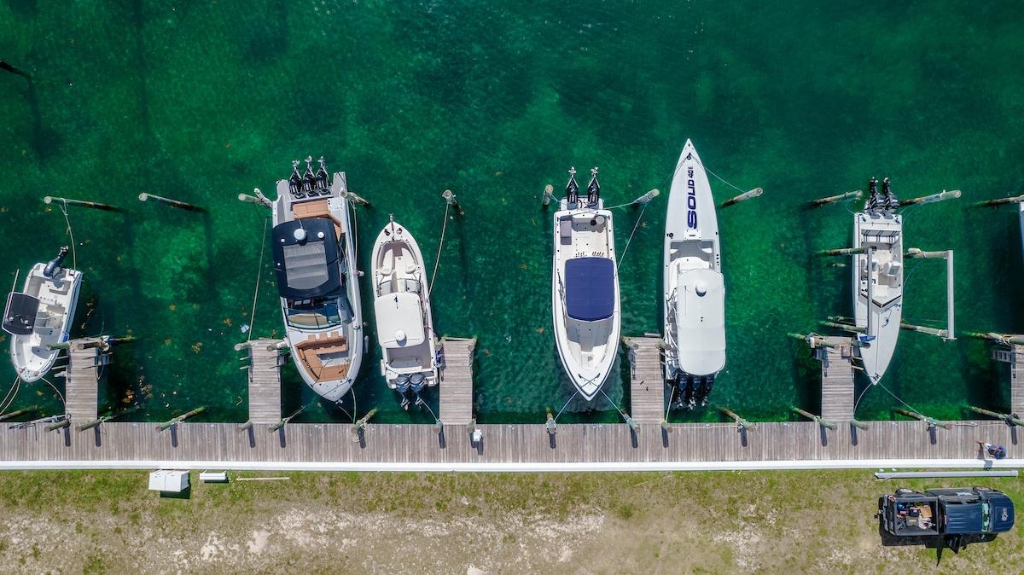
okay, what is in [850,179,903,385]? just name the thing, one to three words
boat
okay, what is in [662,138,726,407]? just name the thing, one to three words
boat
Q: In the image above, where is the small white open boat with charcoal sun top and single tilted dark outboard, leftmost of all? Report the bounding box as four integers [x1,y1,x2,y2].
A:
[2,244,88,382]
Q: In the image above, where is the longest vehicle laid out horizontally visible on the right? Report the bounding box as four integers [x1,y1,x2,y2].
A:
[874,487,1016,557]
